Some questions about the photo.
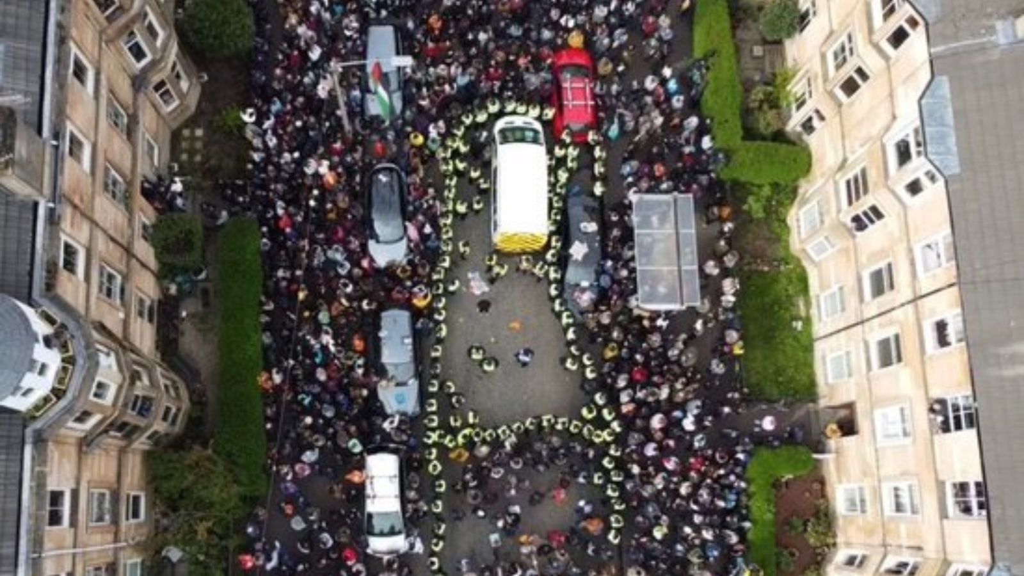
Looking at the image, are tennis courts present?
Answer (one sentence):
No, I find no tennis court anywhere in the image.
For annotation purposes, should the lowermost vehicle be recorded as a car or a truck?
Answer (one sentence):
It turns out the lowermost vehicle is a car.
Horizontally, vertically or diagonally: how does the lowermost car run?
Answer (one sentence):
From this overhead view, the lowermost car appears to run vertically.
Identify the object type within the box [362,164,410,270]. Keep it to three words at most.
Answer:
car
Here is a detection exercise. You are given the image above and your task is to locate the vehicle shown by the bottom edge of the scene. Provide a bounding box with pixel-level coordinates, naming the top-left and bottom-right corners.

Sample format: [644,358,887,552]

[358,447,413,559]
